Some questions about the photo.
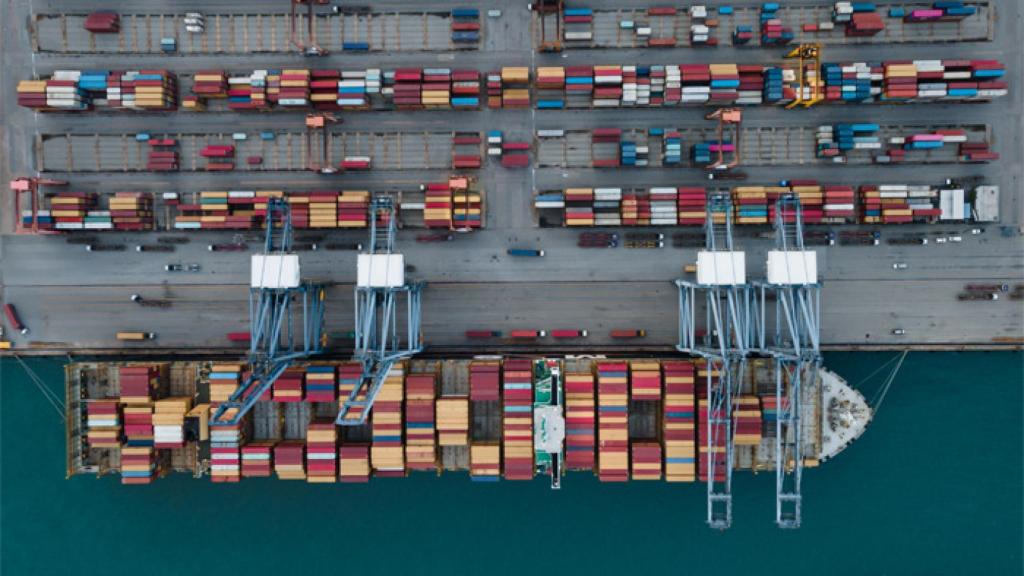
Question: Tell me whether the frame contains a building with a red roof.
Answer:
No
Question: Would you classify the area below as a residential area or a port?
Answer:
port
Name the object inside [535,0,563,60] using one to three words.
container crane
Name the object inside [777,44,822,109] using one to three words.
container crane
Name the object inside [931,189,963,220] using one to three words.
shed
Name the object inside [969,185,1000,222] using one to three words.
building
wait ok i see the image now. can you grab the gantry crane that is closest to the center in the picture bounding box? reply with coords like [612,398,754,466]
[448,180,478,233]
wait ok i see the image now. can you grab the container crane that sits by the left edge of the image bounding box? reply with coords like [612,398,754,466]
[11,182,71,233]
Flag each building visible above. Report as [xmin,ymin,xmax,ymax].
[969,185,1000,222]
[931,189,963,220]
